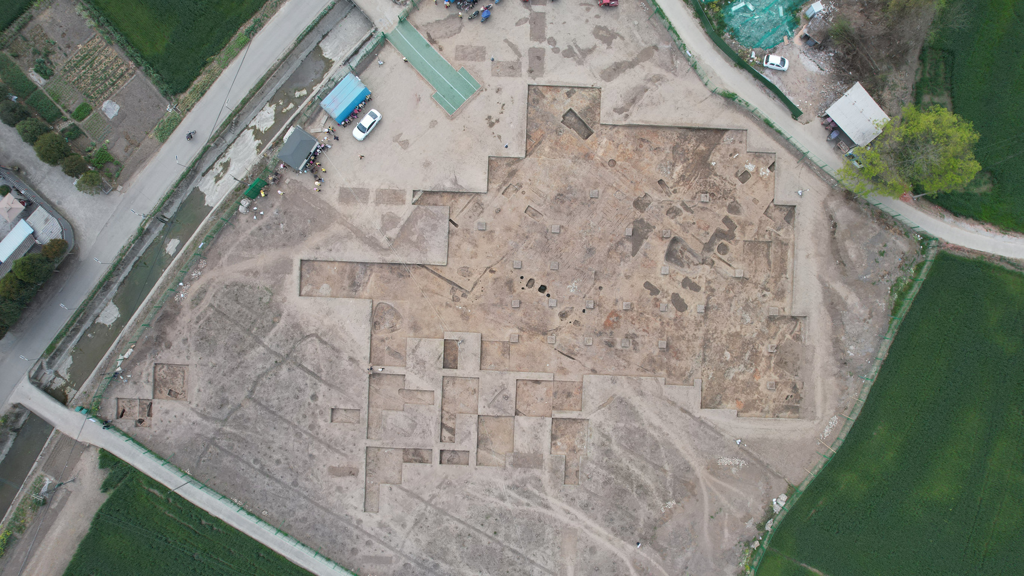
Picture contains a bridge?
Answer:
Yes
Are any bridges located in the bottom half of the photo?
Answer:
Yes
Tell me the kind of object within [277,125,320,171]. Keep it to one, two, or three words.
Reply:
building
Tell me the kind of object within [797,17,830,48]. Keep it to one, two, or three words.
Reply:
shed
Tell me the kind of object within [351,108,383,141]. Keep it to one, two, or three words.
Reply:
car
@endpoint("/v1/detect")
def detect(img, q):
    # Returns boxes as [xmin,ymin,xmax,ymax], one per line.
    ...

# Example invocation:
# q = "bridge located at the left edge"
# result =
[5,371,90,443]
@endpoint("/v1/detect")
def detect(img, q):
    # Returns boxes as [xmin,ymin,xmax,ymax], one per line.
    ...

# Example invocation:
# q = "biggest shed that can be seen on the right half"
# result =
[818,82,888,149]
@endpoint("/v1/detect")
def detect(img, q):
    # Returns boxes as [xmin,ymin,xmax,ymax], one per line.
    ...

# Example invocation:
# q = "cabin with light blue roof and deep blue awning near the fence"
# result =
[321,73,373,126]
